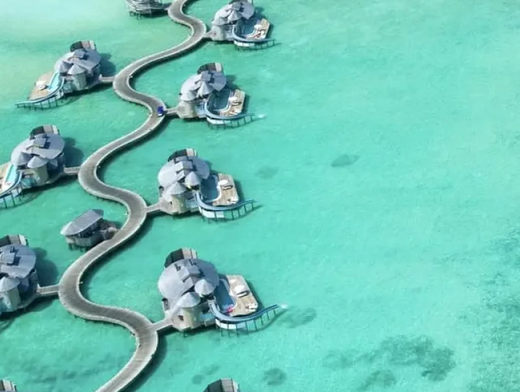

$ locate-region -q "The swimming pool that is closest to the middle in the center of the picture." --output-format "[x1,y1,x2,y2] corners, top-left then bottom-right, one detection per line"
[204,173,225,204]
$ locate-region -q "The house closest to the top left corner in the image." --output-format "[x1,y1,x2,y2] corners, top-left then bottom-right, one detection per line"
[26,43,106,114]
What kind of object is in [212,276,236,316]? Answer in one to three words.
swimming pool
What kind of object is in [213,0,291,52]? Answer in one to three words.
house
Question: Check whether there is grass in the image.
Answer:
No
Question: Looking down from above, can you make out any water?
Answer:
Yes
